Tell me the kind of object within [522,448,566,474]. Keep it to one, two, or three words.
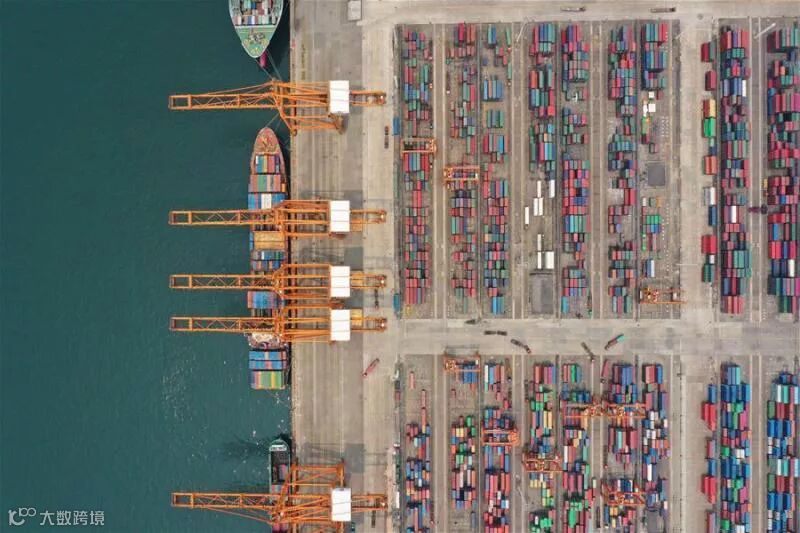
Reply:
container crane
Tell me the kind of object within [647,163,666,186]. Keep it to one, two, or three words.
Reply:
shed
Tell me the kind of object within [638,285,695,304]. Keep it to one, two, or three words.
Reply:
container crane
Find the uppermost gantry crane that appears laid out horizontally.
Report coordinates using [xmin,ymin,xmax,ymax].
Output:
[168,72,385,134]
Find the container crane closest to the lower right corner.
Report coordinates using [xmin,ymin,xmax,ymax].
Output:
[601,479,648,507]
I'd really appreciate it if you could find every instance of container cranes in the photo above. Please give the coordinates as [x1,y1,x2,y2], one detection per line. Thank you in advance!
[168,258,385,300]
[443,352,482,372]
[168,460,385,533]
[560,396,603,418]
[168,72,385,134]
[601,479,648,507]
[443,166,482,186]
[168,299,385,345]
[400,138,438,159]
[480,421,520,445]
[638,285,695,304]
[168,191,385,237]
[601,396,647,418]
[522,448,566,474]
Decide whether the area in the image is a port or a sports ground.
port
